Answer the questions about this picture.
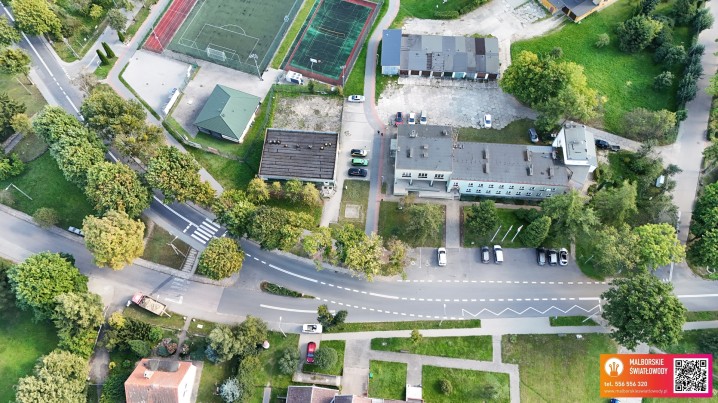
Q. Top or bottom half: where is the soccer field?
top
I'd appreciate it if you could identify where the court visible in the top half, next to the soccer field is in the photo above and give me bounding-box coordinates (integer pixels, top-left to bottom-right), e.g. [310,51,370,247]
[286,0,377,86]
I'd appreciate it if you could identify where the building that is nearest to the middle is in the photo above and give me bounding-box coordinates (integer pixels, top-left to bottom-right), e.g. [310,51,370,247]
[259,128,339,200]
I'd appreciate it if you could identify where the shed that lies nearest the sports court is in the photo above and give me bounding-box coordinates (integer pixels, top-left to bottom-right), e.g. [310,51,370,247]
[381,29,402,74]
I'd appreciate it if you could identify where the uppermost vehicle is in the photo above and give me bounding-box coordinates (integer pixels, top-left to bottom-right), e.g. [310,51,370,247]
[282,67,305,85]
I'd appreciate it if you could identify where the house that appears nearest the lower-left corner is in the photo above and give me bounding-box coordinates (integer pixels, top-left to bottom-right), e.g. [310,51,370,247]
[124,359,196,403]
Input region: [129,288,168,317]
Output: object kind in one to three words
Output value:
truck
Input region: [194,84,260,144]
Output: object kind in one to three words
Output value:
building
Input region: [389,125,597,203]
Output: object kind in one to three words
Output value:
building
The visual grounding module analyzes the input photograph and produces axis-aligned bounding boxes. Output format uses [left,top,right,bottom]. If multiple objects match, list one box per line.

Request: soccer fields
[165,0,302,76]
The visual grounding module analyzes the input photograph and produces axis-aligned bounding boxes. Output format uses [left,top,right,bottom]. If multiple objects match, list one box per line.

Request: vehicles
[438,247,447,267]
[67,224,86,238]
[348,168,368,177]
[306,342,317,364]
[408,111,416,125]
[595,138,613,150]
[347,94,365,102]
[282,67,305,85]
[483,113,492,130]
[419,109,427,125]
[350,149,367,158]
[536,247,546,266]
[481,246,491,265]
[350,158,367,167]
[395,111,404,127]
[547,249,557,266]
[557,247,569,266]
[129,288,168,317]
[493,245,504,265]
[302,323,323,334]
